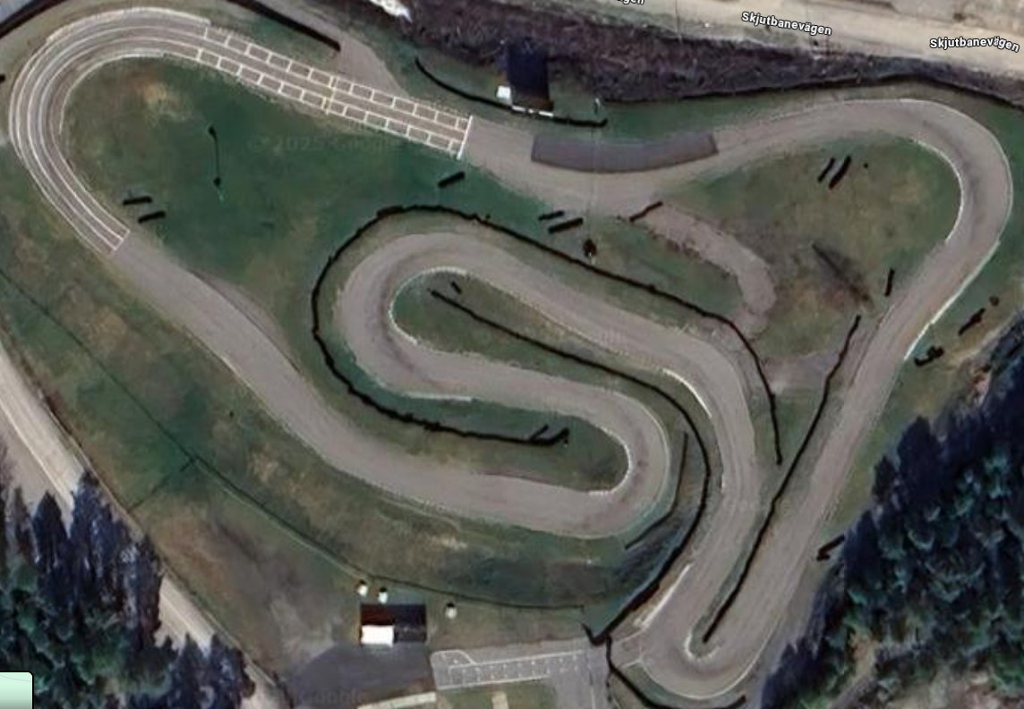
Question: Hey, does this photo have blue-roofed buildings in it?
No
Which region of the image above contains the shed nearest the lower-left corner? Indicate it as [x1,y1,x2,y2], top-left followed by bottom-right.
[360,620,392,644]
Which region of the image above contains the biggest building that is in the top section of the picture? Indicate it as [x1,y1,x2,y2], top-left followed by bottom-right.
[509,85,552,113]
